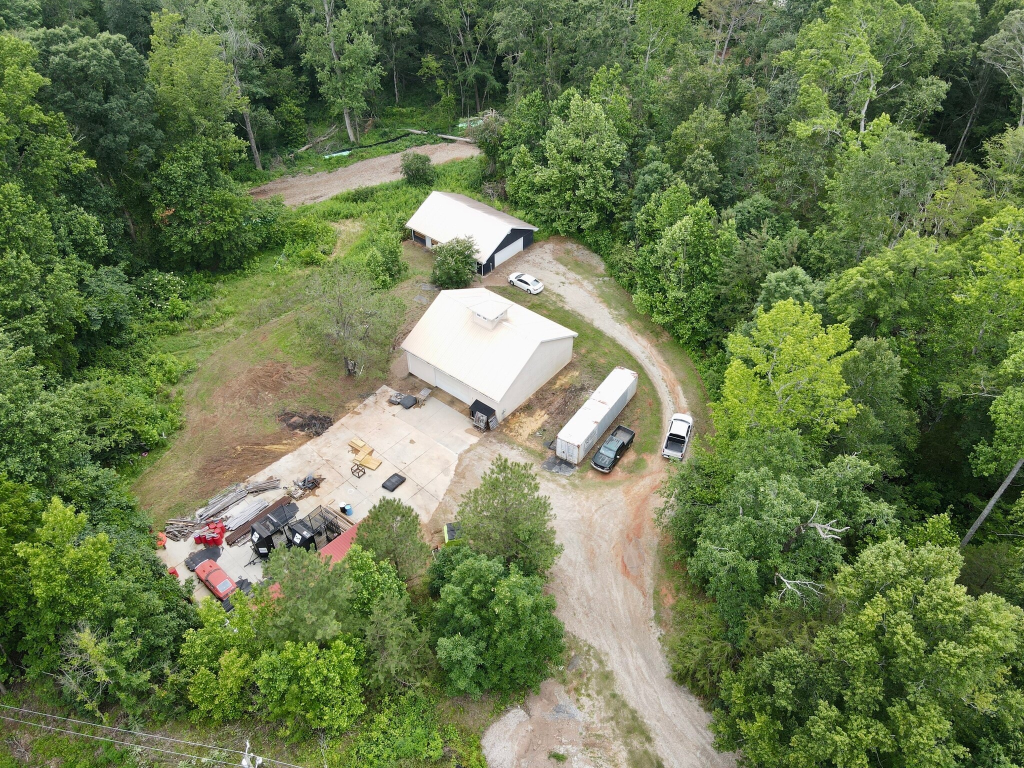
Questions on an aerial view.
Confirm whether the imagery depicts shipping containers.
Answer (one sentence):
Yes, you can see a shipping container in this photo.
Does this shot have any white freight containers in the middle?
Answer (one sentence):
Yes, in the middle there is a white freight container.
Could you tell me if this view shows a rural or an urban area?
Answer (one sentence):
This place is rural.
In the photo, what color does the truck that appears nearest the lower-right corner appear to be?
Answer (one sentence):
The truck that appears nearest the lower-right corner looks white in the image.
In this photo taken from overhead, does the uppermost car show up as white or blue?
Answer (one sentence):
The uppermost car is white.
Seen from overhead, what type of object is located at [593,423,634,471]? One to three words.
truck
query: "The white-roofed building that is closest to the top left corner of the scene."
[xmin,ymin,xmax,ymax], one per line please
[406,191,539,278]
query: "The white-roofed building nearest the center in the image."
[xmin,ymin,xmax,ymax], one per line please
[400,289,578,425]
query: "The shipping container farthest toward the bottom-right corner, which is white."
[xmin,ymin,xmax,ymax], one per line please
[556,365,638,465]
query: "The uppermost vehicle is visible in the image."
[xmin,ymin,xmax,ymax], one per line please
[507,274,545,296]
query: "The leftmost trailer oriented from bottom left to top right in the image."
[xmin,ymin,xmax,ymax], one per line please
[236,503,297,562]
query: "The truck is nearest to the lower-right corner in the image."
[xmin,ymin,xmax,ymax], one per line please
[662,412,694,461]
